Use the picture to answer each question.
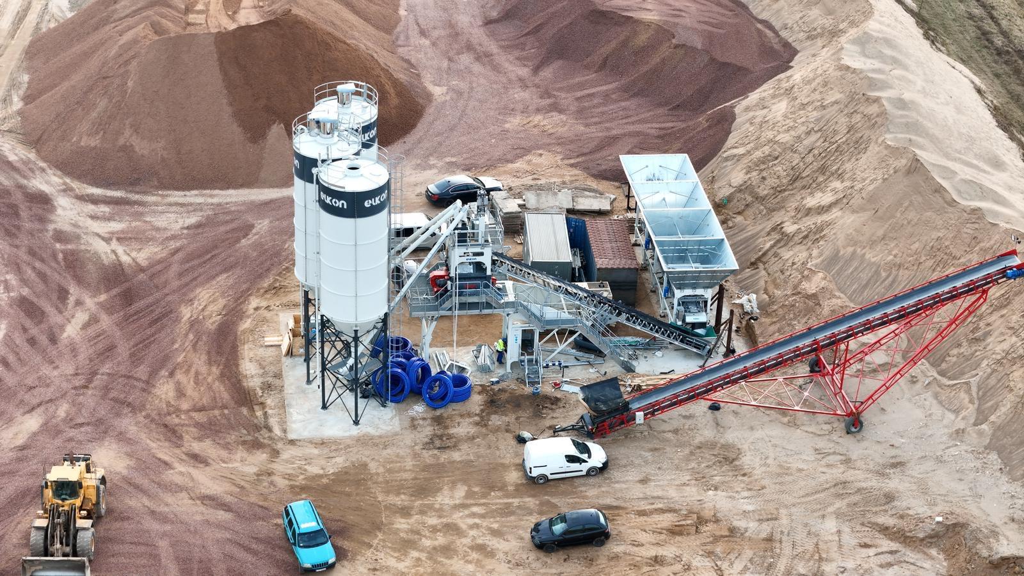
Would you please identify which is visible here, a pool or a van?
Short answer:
van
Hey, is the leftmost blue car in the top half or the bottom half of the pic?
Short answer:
bottom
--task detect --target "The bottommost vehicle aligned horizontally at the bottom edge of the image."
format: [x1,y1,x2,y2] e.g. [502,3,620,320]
[530,506,614,553]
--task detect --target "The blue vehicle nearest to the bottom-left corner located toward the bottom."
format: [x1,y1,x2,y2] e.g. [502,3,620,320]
[286,496,334,574]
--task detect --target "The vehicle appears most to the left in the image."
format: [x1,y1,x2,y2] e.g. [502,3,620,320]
[18,449,109,576]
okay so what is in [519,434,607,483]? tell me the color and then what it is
white van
